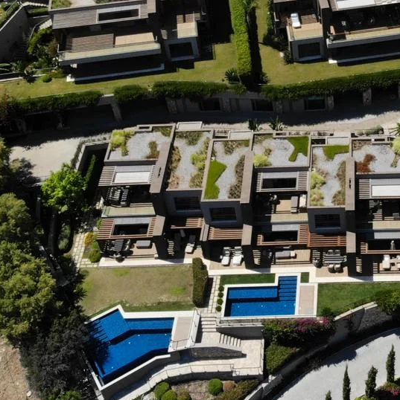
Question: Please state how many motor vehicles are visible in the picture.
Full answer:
Not a single motor vehicle can be seen.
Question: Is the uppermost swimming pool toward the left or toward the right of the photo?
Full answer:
The uppermost swimming pool is on the right side of the image.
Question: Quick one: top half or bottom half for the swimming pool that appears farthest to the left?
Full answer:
The swimming pool that appears farthest to the left sits in the bottom half of the picture.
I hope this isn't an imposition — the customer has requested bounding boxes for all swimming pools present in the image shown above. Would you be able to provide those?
[221,273,317,331]
[87,305,198,395]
